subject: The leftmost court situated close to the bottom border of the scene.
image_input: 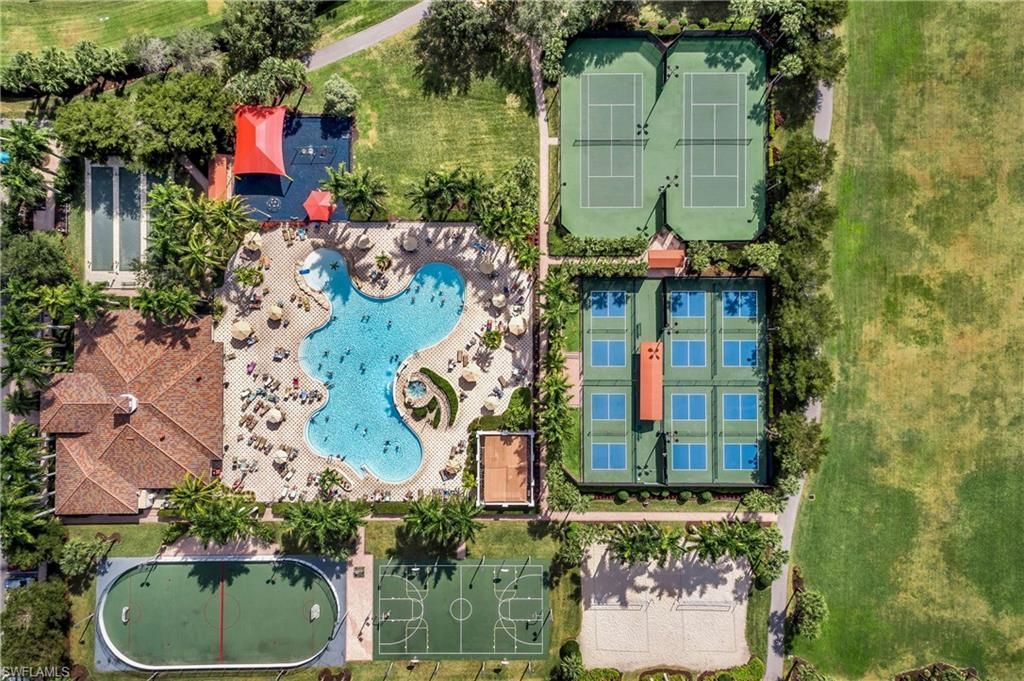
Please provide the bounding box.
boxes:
[97,561,338,668]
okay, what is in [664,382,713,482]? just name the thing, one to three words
sports court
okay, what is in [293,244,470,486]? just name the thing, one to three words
swimming pool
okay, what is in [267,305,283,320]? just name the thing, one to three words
umbrella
